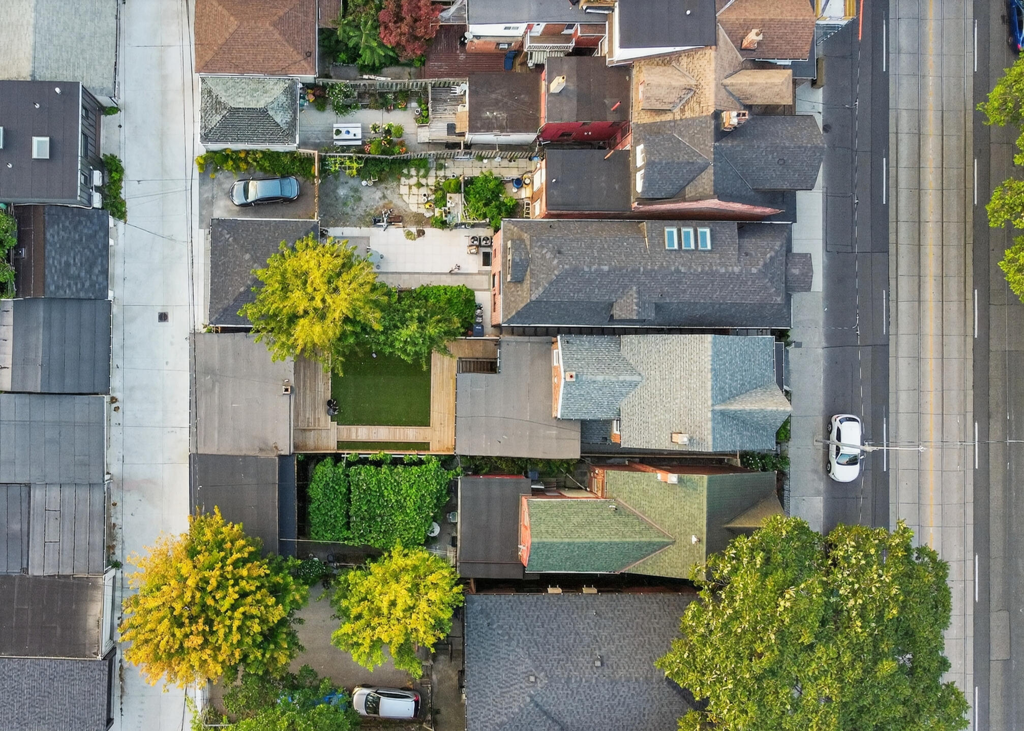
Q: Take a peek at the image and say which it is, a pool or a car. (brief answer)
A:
car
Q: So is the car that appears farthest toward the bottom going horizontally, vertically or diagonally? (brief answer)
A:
horizontally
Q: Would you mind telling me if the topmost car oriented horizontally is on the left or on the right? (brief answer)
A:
left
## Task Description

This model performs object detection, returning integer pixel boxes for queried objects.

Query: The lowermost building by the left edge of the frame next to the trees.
[0,653,115,731]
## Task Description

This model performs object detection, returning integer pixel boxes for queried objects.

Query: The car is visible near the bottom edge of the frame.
[354,690,422,725]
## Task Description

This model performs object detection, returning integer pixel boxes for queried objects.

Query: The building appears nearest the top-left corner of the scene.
[0,0,121,101]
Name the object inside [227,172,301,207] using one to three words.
car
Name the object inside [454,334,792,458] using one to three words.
house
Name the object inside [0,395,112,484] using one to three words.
building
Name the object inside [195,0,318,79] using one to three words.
building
